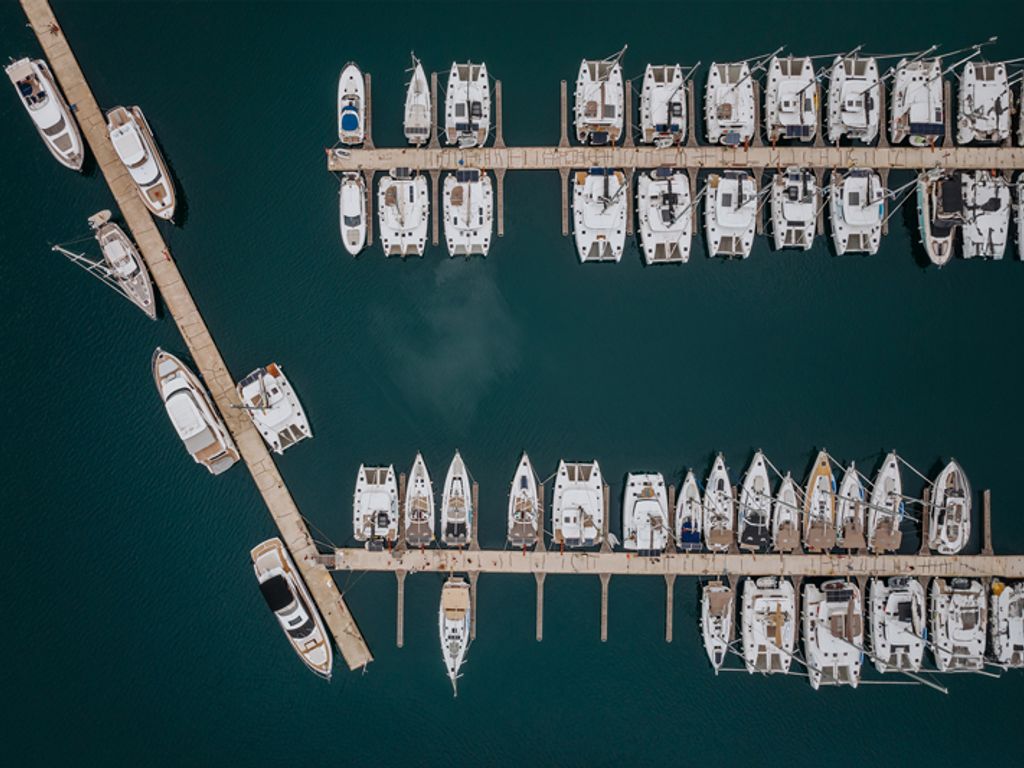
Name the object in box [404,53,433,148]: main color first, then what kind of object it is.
white boat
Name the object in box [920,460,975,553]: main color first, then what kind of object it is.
gray boat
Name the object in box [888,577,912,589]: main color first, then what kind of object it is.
gray boat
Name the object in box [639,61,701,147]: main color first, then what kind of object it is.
white boat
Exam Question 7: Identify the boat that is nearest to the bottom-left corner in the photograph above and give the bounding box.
[253,537,334,681]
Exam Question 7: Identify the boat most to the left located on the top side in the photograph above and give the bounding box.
[8,57,96,174]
